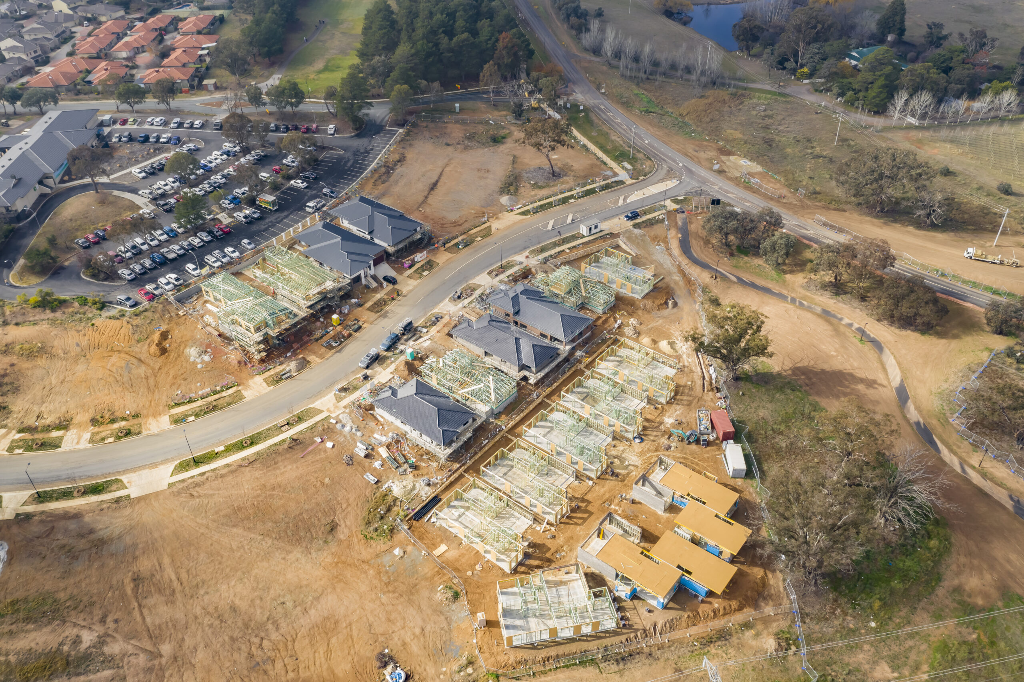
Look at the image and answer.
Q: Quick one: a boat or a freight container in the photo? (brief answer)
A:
freight container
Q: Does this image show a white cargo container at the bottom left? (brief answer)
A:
No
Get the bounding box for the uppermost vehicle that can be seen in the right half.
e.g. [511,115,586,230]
[623,209,641,221]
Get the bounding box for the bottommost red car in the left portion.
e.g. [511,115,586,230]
[137,288,156,301]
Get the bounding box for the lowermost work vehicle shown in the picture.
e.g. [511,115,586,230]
[670,426,699,444]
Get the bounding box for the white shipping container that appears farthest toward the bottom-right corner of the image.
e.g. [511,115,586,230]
[721,444,747,480]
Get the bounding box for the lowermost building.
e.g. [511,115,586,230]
[576,526,615,563]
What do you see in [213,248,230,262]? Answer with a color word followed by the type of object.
gray car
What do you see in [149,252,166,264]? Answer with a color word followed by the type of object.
blue vehicle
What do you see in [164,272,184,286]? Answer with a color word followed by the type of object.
white vehicle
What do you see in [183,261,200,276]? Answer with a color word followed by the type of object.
white car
